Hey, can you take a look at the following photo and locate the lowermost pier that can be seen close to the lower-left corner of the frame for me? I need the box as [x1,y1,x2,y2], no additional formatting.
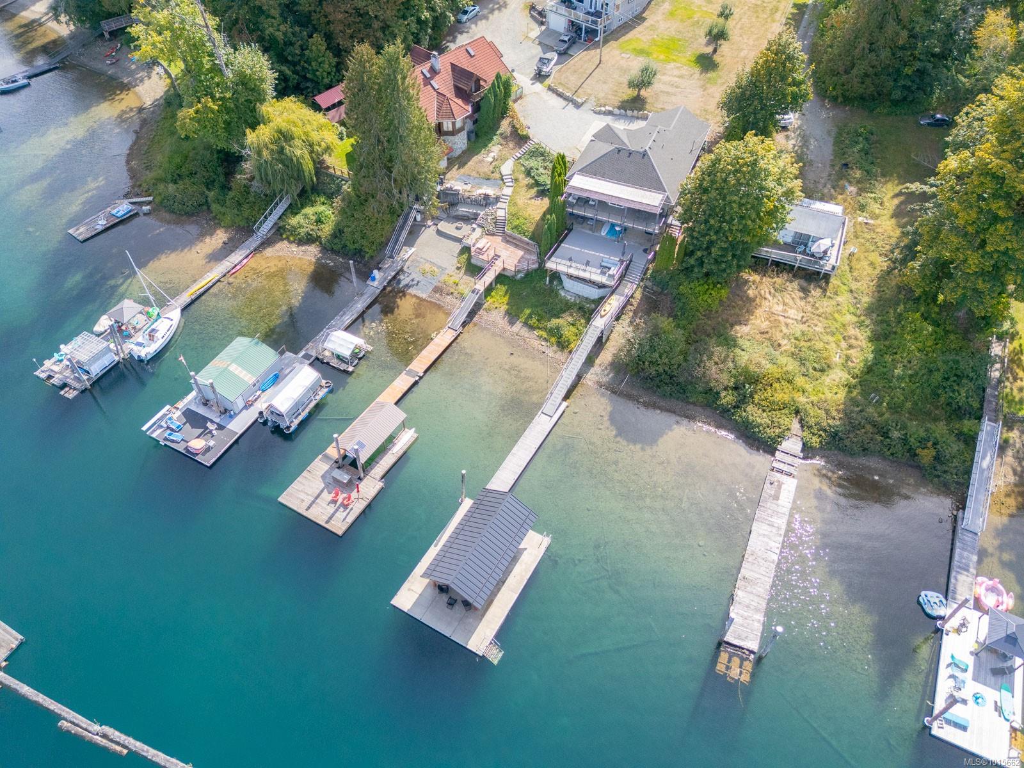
[0,621,25,666]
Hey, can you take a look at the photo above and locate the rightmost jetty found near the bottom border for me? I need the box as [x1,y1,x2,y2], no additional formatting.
[920,603,1024,767]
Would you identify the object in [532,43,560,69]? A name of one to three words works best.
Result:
boat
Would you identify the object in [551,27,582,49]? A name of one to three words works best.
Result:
truck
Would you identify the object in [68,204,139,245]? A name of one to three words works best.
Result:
pier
